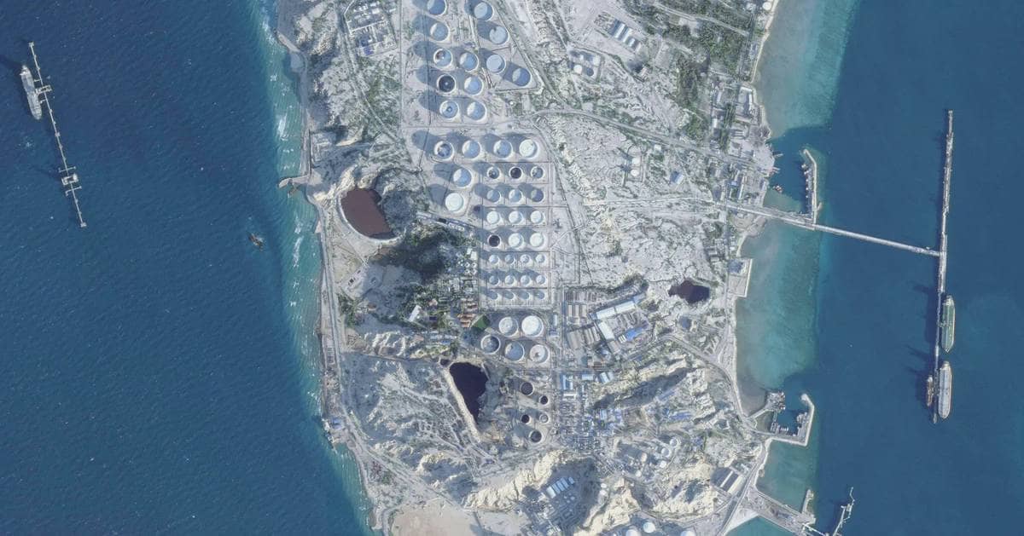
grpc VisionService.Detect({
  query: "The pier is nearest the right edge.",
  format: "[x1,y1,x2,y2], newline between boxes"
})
[933,110,953,420]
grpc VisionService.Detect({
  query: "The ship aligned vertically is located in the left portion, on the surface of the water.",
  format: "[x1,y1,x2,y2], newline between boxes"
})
[18,65,40,119]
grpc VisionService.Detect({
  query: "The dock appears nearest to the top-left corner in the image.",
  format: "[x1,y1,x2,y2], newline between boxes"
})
[28,41,86,227]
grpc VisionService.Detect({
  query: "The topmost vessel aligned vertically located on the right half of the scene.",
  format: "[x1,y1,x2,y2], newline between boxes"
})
[942,296,955,352]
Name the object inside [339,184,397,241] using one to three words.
pond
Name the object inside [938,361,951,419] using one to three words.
ship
